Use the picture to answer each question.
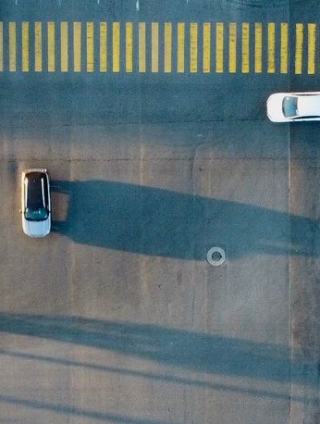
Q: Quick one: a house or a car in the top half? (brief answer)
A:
car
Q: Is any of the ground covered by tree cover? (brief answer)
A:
No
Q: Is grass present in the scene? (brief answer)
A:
No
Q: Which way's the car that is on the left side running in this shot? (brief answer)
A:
from top to bottom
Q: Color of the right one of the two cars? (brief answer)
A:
white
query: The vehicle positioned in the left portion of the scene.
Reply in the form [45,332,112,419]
[20,170,52,236]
